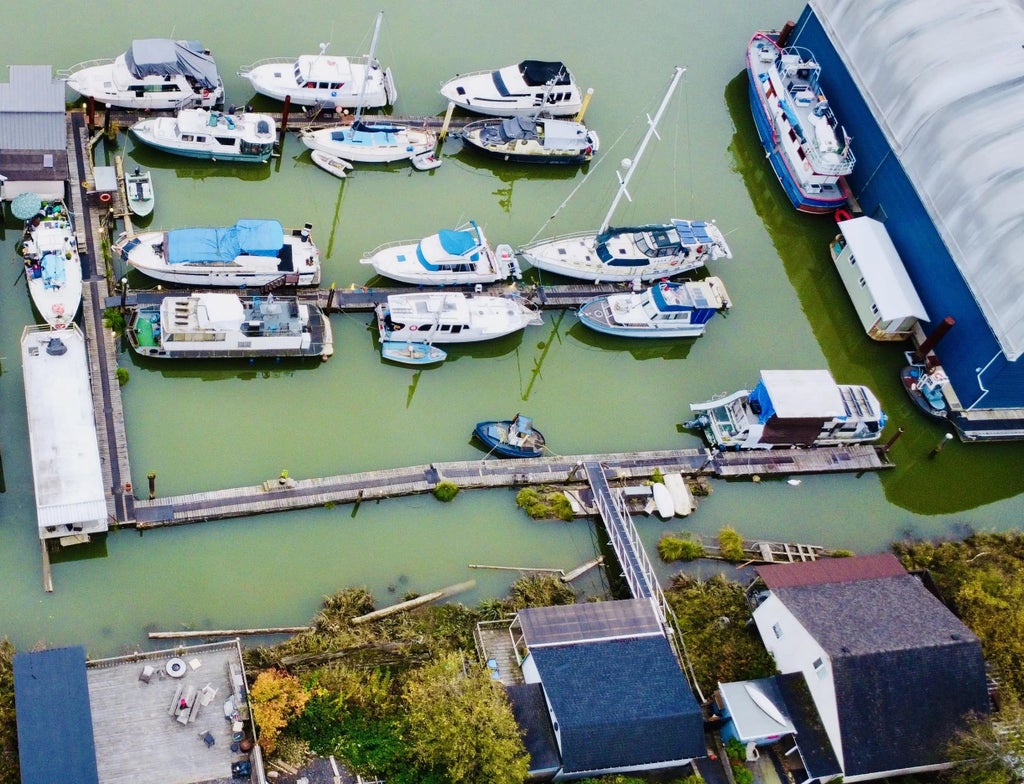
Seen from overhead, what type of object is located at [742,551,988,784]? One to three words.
house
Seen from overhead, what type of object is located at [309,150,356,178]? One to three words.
boat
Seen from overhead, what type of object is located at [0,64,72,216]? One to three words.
house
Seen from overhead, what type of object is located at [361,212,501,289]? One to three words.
boat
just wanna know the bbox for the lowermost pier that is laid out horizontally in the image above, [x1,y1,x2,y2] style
[701,543,824,565]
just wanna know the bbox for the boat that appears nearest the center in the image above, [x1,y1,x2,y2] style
[474,415,545,455]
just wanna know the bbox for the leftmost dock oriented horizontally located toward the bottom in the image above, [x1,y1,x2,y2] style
[136,462,439,529]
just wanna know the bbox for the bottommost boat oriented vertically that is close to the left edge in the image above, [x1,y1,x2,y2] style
[22,319,108,570]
